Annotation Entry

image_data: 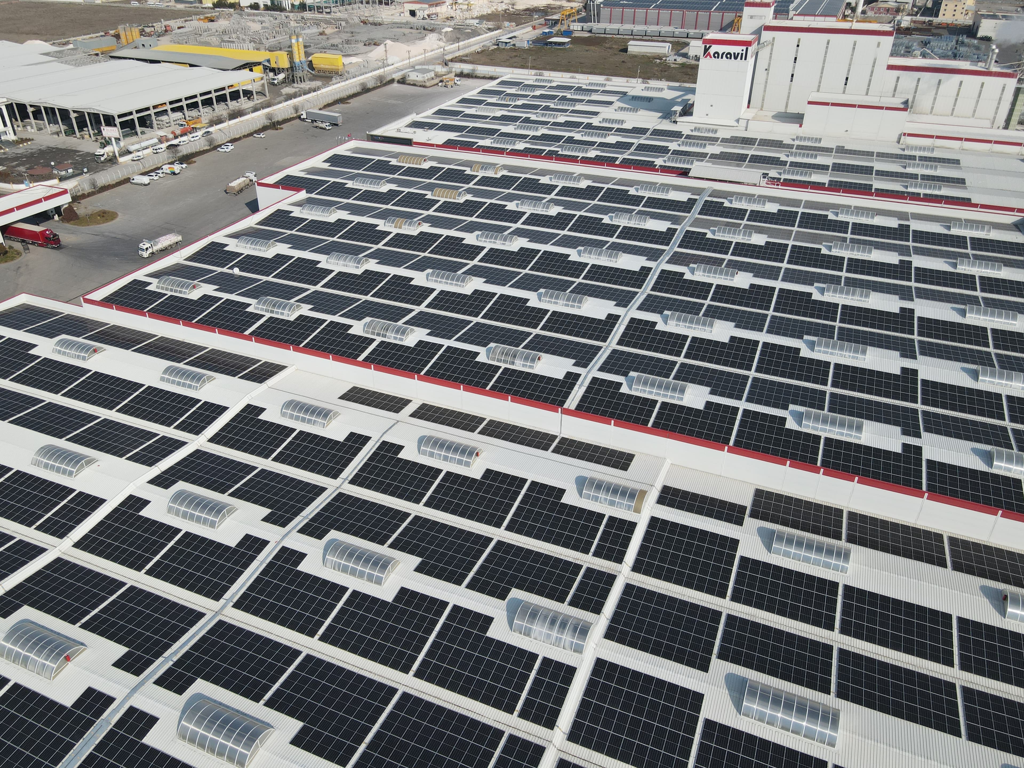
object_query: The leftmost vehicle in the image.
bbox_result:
[0,221,61,248]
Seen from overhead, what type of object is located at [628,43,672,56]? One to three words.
shed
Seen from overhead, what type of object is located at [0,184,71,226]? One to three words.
building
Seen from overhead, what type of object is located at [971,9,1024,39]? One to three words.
building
